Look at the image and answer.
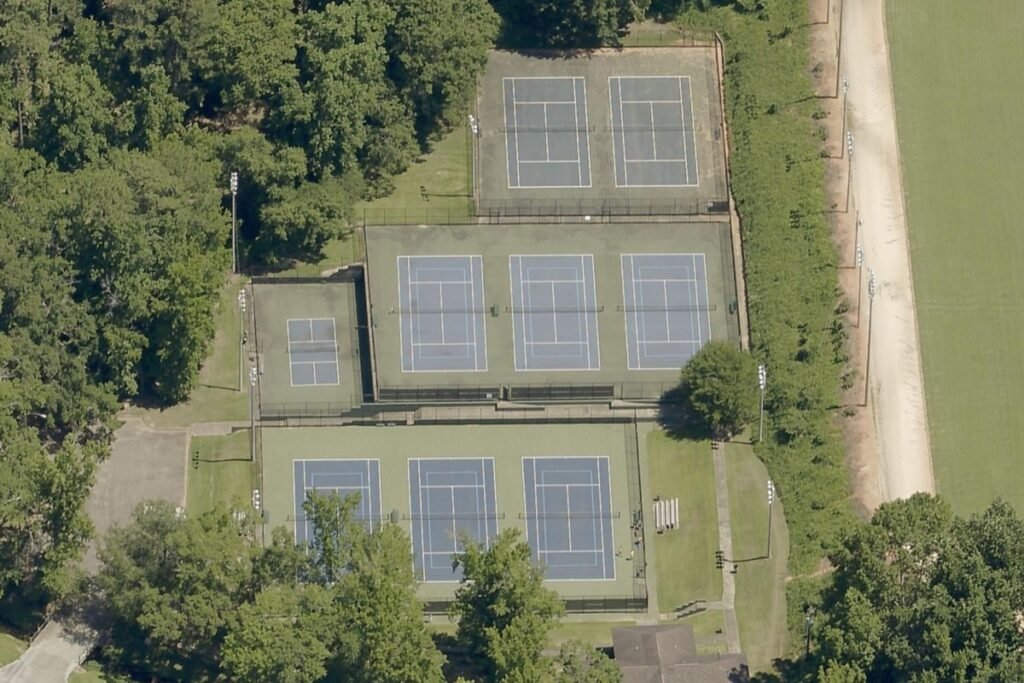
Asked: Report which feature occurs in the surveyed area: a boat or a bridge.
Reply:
bridge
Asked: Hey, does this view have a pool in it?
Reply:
No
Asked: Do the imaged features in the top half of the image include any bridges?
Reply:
No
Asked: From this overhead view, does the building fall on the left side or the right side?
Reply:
right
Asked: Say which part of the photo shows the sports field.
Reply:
right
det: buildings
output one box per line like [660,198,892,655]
[613,625,746,683]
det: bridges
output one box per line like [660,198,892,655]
[24,611,104,671]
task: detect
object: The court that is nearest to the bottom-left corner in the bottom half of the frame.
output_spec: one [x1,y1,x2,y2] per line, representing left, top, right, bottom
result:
[294,459,381,581]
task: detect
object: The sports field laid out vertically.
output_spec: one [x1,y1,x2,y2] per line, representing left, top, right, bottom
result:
[885,0,1024,599]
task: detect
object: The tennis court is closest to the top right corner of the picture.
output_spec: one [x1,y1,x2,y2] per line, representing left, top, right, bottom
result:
[609,77,699,187]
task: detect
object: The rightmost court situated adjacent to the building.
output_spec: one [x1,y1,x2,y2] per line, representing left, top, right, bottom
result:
[522,457,616,579]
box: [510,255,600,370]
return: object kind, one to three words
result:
tennis court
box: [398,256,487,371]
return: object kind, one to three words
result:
tennis court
